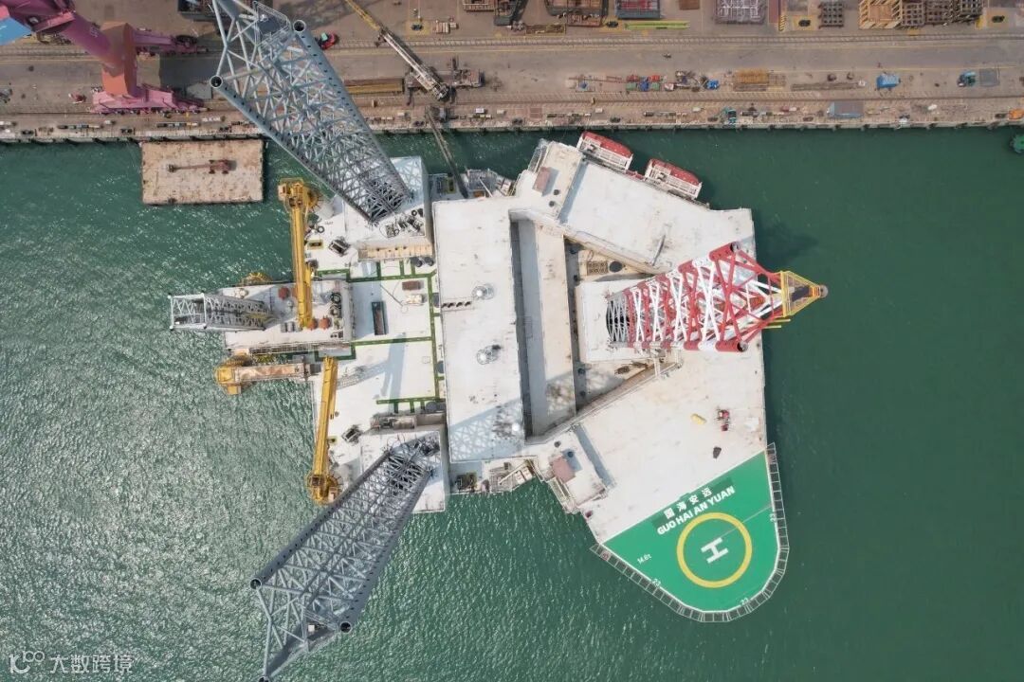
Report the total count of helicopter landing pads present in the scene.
1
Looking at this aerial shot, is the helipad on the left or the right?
right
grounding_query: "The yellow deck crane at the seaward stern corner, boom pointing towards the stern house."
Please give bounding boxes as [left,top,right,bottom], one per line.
[309,355,360,512]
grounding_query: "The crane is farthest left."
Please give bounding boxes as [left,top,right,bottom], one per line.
[0,0,207,114]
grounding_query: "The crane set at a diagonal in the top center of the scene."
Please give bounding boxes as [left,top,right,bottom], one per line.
[342,0,490,107]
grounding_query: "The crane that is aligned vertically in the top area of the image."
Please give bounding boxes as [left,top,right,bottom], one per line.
[276,173,339,333]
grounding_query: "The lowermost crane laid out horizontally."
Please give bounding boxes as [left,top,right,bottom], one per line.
[213,353,321,397]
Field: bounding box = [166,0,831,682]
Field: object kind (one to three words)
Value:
ship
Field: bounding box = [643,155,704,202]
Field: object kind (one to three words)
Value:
boat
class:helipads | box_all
[591,444,790,623]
